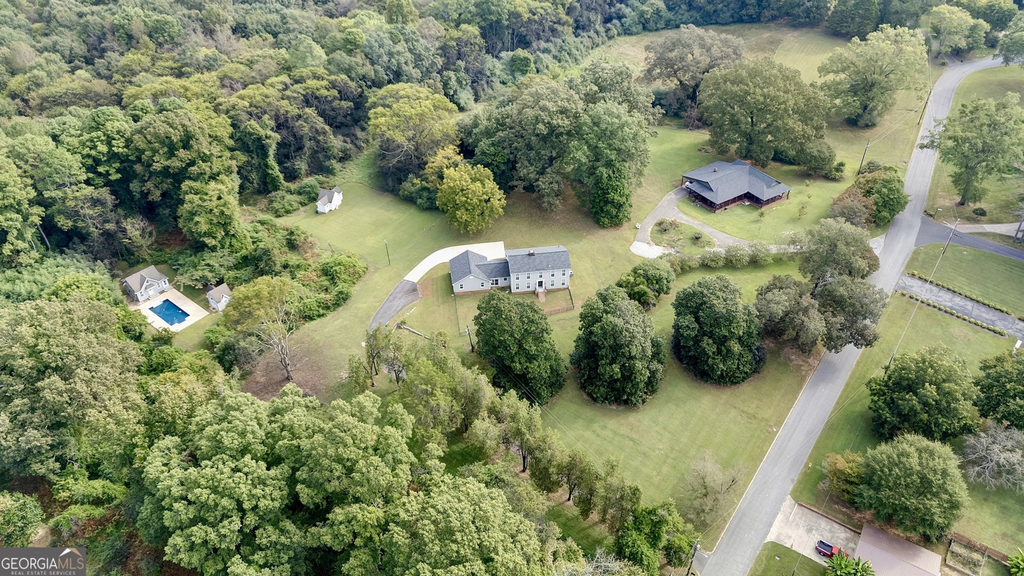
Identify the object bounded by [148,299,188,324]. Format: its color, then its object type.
blue swimming pool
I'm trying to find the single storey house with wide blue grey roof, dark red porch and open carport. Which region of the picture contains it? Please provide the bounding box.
[678,159,792,213]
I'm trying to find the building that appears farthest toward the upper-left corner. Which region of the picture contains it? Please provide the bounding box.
[121,263,174,302]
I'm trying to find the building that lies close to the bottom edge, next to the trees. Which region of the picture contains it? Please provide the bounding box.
[849,523,942,576]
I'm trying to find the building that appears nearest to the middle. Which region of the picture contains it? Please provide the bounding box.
[451,247,574,302]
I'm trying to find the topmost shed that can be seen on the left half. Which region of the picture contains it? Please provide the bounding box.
[314,188,345,213]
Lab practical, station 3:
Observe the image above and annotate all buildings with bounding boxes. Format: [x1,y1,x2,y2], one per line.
[451,247,574,302]
[314,188,345,213]
[849,523,942,576]
[121,263,174,302]
[205,281,238,312]
[678,159,792,213]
